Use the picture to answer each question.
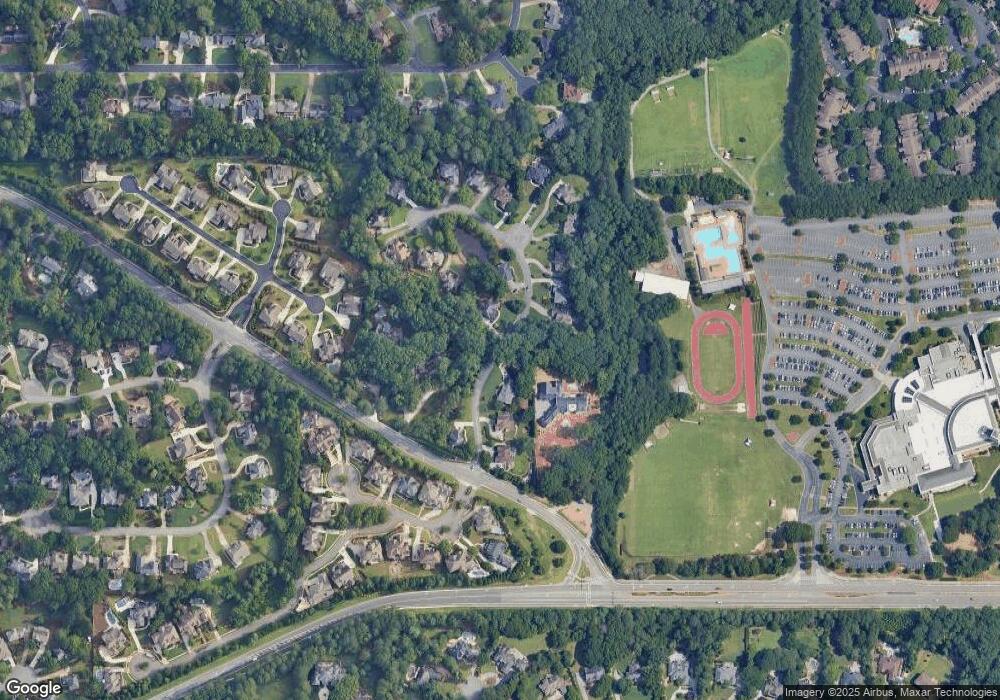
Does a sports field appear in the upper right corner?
Yes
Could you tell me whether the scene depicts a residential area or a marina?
residential area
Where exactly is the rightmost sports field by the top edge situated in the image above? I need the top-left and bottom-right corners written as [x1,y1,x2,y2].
[709,26,790,213]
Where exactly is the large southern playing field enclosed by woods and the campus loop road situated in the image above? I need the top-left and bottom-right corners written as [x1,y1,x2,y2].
[619,419,803,555]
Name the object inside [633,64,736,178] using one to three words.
sports field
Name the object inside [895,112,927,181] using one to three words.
building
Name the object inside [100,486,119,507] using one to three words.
house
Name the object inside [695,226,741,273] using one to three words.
swimming pool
